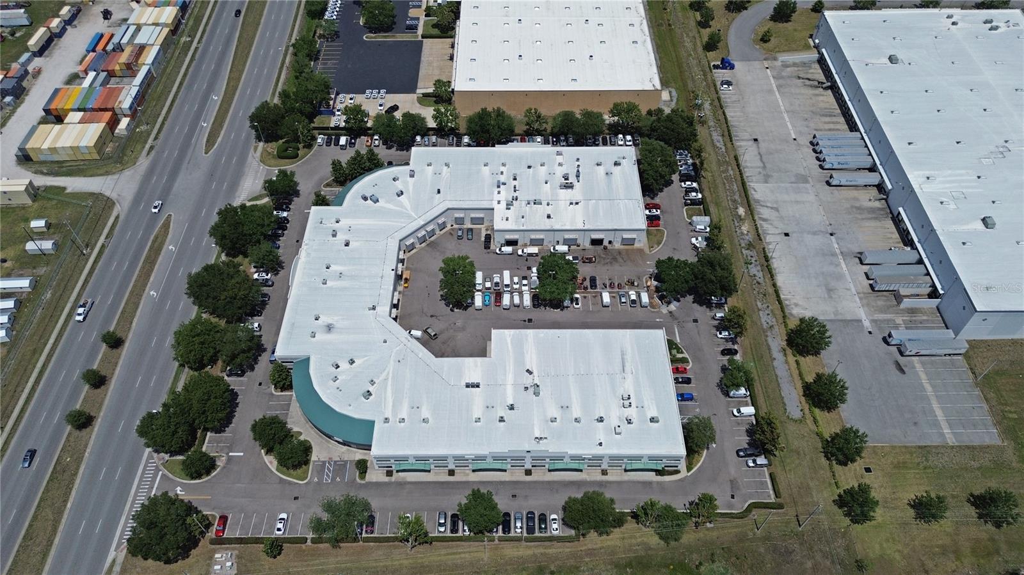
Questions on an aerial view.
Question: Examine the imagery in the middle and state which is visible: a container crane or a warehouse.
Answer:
warehouse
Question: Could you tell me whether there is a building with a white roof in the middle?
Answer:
Yes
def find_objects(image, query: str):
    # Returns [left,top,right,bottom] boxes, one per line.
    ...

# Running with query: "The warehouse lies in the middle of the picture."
[275,144,686,470]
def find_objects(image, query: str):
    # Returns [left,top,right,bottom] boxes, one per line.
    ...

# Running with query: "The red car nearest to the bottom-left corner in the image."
[214,515,229,537]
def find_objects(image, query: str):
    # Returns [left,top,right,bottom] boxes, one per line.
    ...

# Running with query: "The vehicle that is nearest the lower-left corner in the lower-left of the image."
[21,447,37,468]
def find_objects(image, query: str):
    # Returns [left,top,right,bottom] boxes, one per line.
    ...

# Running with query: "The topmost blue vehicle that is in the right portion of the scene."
[713,57,734,70]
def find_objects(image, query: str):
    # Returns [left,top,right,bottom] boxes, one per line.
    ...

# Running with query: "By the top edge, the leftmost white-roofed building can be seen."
[453,0,661,116]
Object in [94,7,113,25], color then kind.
black work vehicle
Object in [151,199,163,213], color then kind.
white vehicle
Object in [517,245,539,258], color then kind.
white vehicle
